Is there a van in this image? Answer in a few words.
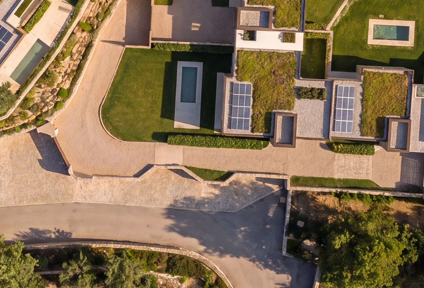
No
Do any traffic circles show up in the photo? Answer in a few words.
No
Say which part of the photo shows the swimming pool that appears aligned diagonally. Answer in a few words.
top left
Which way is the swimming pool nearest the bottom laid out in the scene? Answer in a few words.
vertically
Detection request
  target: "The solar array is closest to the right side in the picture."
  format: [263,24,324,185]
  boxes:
[335,85,355,132]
